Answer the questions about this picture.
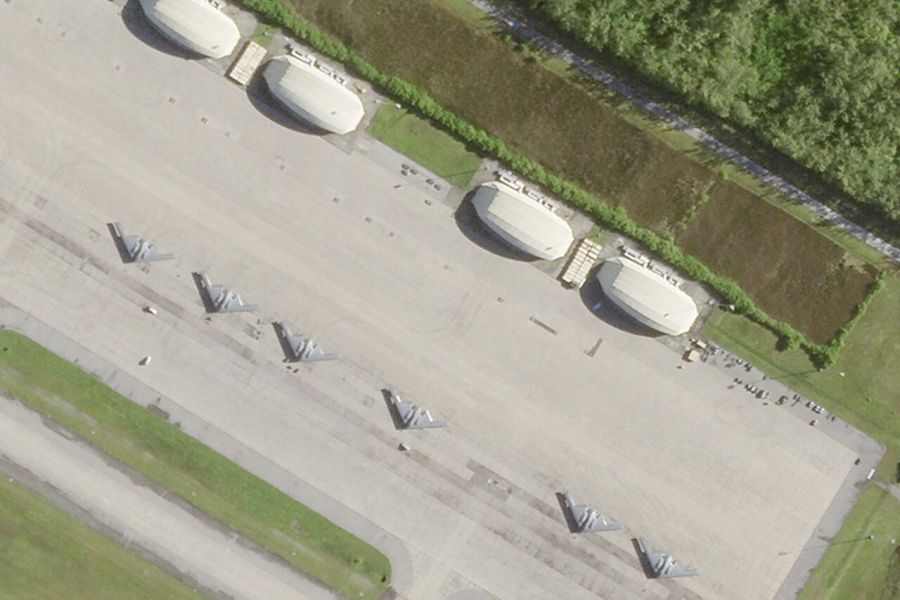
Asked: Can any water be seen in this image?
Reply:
No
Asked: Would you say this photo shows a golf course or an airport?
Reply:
airport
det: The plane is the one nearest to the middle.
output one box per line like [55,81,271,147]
[390,389,448,425]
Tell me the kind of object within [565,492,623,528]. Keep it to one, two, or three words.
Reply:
airplane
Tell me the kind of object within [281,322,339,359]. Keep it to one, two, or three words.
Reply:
airplane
